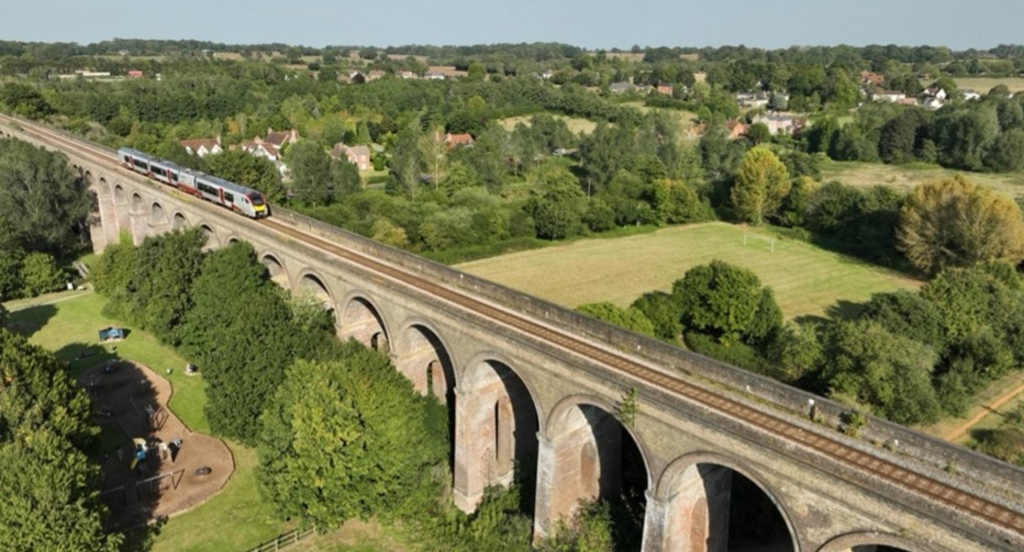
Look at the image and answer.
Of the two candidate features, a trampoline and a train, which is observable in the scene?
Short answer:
train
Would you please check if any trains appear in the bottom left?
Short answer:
No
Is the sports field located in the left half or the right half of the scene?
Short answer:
right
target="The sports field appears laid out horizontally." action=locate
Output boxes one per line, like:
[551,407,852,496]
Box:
[451,221,929,355]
